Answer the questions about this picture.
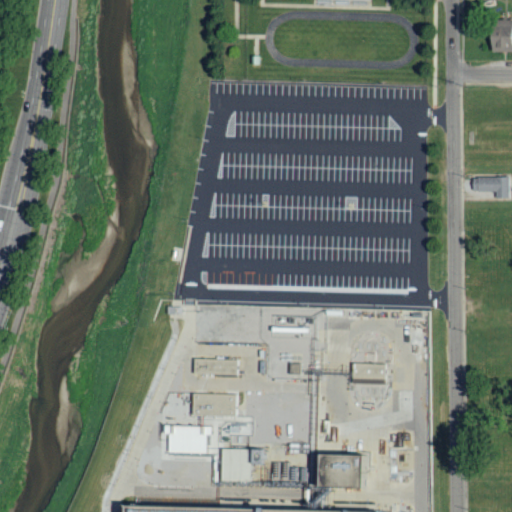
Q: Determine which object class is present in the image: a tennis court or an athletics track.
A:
athletics track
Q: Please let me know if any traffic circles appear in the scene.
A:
No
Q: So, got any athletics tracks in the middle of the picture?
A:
No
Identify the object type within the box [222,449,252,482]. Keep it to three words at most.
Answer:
shed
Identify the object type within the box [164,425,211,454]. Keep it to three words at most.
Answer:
building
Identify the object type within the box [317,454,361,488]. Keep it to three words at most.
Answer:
building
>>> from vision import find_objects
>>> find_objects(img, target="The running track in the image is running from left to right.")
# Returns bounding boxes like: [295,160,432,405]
[266,11,418,70]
